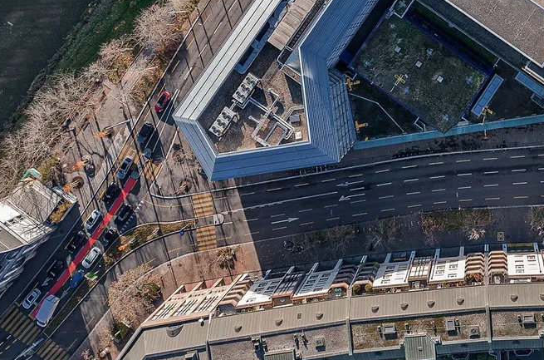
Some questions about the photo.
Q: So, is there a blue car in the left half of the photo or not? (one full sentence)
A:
Yes, you'll find a blue car in the left half of the photo.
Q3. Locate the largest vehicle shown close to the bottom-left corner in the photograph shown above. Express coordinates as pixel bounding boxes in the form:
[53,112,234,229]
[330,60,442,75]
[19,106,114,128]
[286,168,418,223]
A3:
[35,289,61,323]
